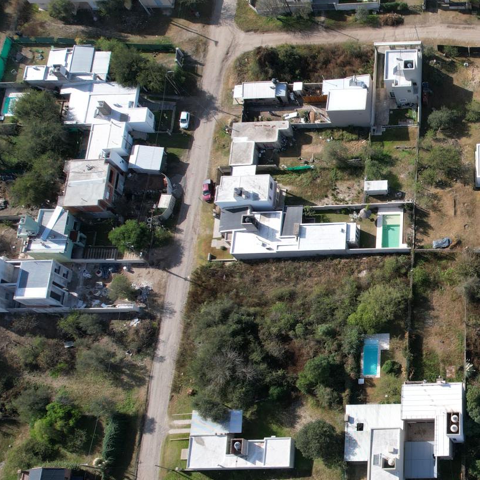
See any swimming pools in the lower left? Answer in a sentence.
No, the scene shows no swimming pool in the lower left.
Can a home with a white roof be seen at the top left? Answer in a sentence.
Yes, a home with a white roof shows up at the top left.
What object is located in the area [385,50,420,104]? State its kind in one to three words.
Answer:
house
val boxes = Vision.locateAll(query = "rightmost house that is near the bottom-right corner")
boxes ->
[344,382,466,480]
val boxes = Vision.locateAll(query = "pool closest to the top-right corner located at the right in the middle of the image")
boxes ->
[376,207,404,248]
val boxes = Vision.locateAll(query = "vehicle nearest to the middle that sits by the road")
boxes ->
[201,181,215,202]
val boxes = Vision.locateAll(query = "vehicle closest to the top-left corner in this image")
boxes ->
[178,111,191,131]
